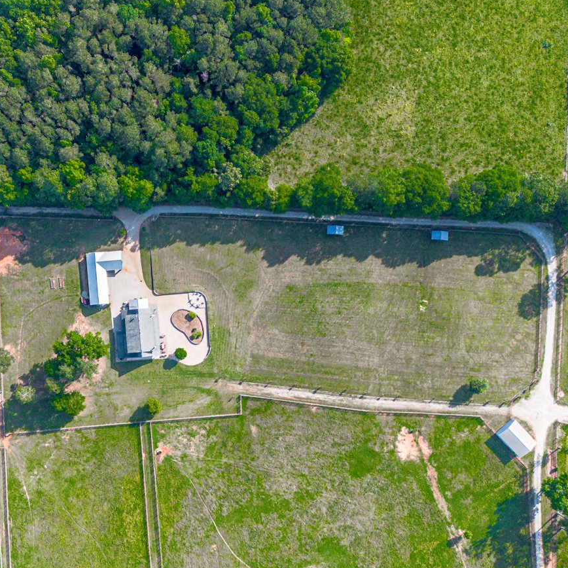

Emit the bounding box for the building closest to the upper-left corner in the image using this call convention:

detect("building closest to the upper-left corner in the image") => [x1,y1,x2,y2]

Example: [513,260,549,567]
[87,250,123,304]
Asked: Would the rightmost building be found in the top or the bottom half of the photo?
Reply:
bottom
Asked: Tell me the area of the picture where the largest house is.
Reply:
left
